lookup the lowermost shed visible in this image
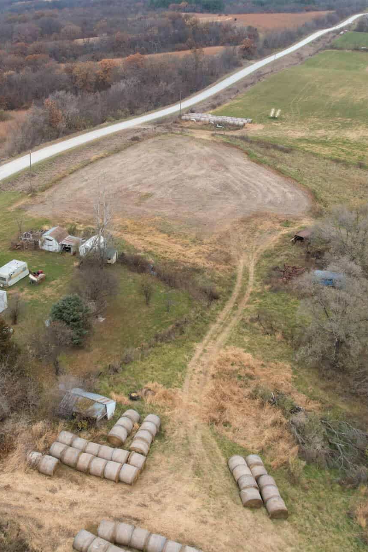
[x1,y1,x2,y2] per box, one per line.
[67,387,121,423]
